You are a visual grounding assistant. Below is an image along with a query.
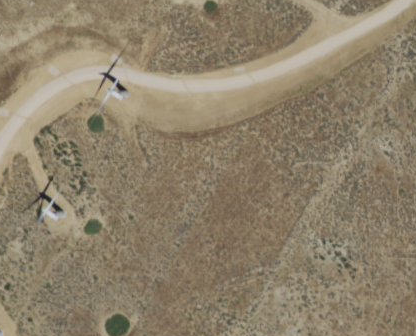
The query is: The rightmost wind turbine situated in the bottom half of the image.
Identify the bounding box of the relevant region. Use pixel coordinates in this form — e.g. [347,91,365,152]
[26,178,66,234]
